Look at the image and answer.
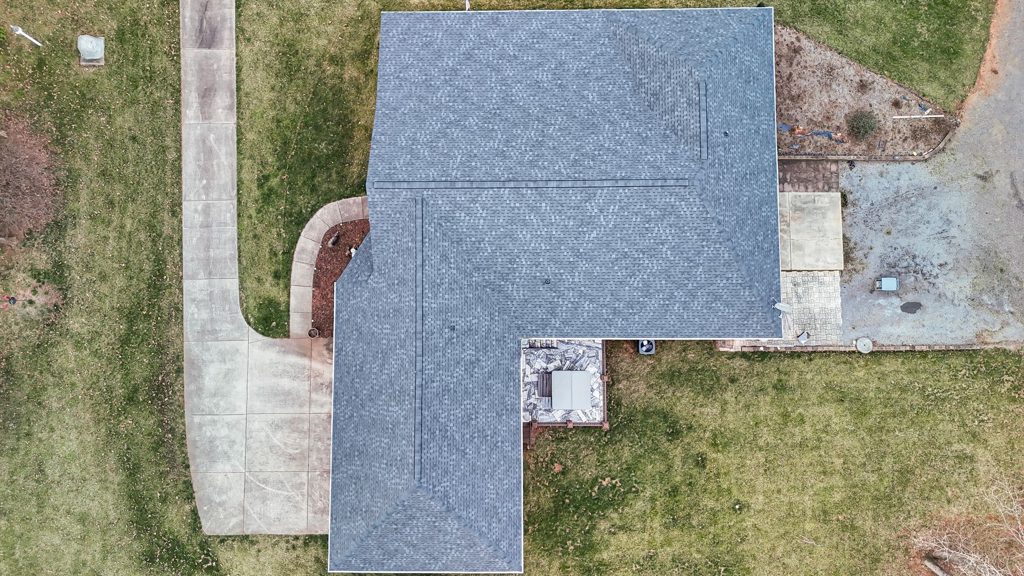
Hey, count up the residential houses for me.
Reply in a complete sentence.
My tally gives 1 residential house in this photo.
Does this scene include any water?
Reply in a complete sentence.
No, water can't be seen anywhere here.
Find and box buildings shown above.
[327,6,784,574]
